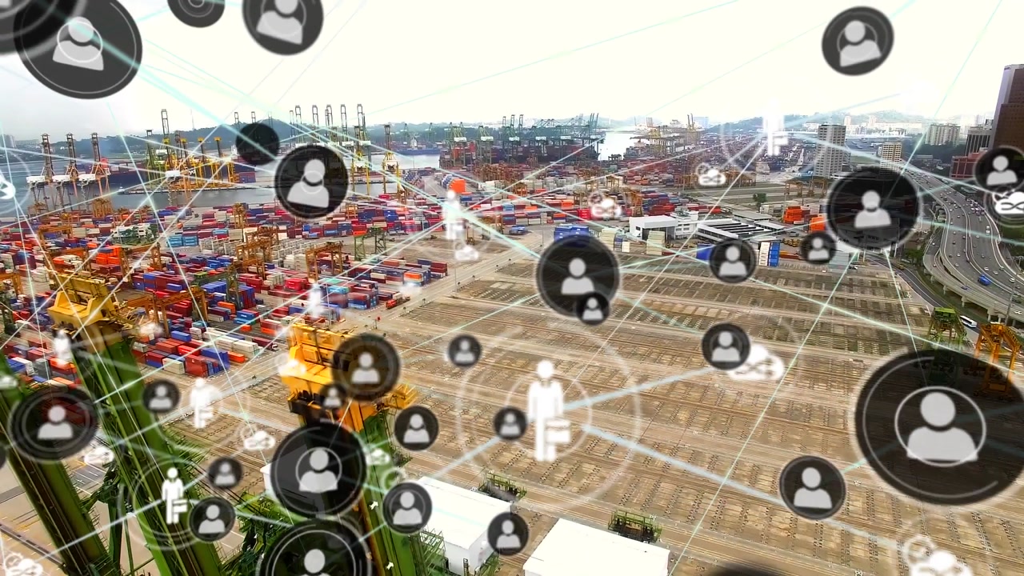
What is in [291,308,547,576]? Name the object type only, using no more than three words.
container crane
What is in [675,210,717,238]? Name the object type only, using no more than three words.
building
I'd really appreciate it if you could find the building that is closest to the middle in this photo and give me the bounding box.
[630,220,685,242]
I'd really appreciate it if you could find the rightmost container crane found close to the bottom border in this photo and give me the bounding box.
[528,499,679,576]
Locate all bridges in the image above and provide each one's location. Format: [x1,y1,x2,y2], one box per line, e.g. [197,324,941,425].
[854,145,1024,309]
